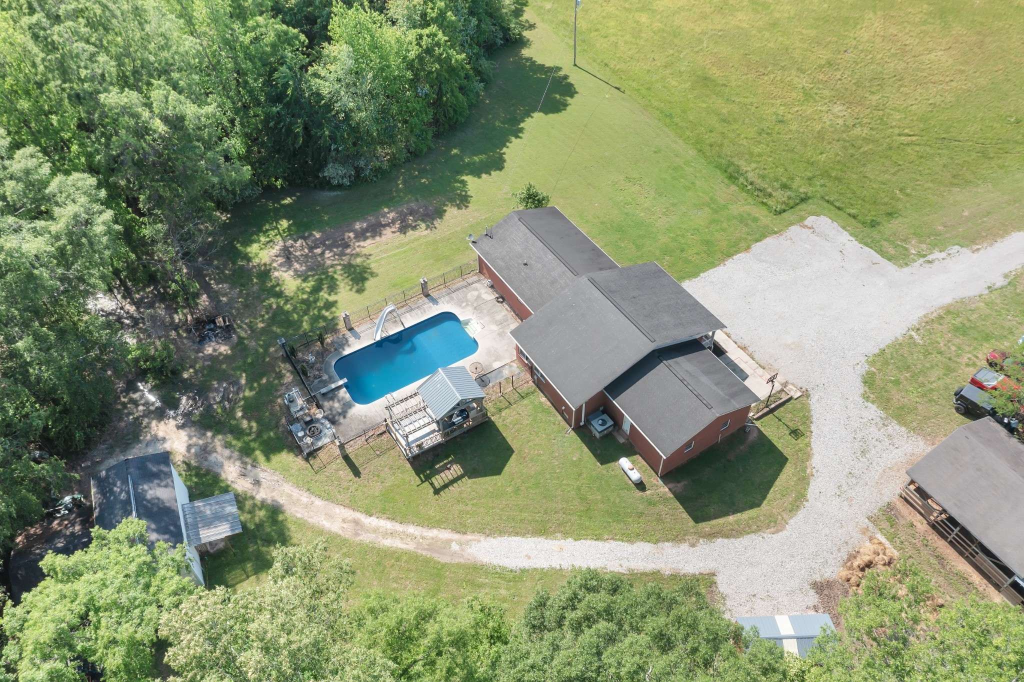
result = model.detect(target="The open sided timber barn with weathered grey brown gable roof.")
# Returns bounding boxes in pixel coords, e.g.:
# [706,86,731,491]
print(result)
[896,418,1024,618]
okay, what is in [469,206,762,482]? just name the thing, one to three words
house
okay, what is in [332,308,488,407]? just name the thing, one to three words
swimming pool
